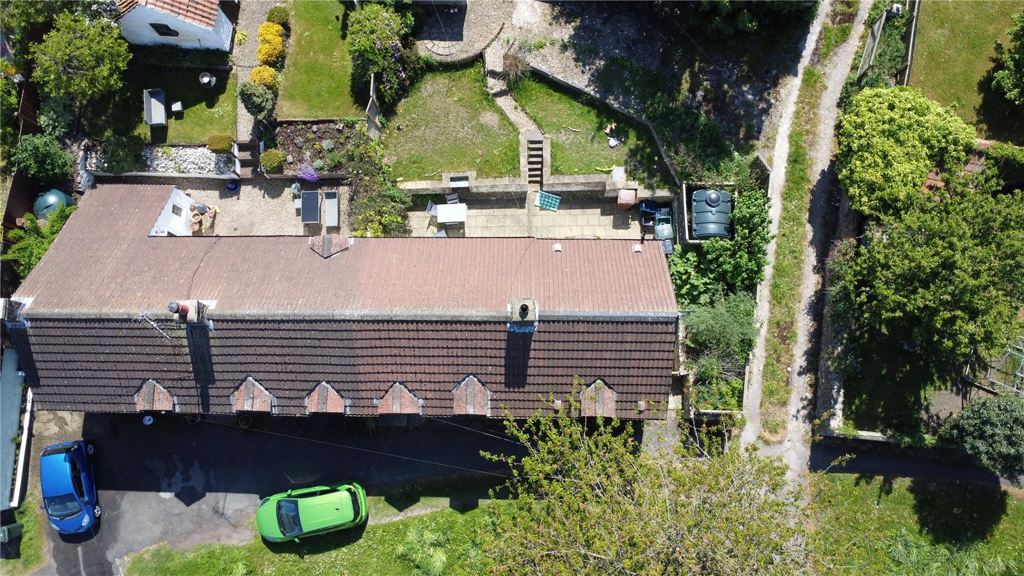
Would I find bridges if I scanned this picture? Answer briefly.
No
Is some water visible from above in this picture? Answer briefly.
No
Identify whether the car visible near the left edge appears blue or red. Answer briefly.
blue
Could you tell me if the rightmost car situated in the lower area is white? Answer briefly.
No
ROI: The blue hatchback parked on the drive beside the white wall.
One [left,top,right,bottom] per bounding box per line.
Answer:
[37,444,103,535]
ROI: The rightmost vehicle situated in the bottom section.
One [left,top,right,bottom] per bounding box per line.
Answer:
[259,479,369,546]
